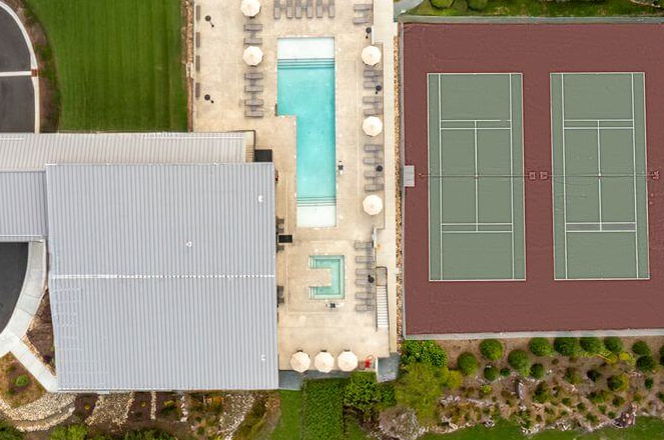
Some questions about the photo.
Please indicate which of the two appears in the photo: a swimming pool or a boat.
swimming pool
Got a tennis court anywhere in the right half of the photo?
Yes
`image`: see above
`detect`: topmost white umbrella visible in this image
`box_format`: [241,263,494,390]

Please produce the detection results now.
[241,0,261,17]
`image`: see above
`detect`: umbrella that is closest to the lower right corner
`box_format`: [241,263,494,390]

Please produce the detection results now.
[338,351,357,371]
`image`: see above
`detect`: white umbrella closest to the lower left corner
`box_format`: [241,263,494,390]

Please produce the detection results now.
[291,352,310,372]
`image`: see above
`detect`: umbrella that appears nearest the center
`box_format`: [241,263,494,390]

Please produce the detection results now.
[363,195,383,215]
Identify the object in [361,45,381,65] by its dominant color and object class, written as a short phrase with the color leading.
white umbrella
